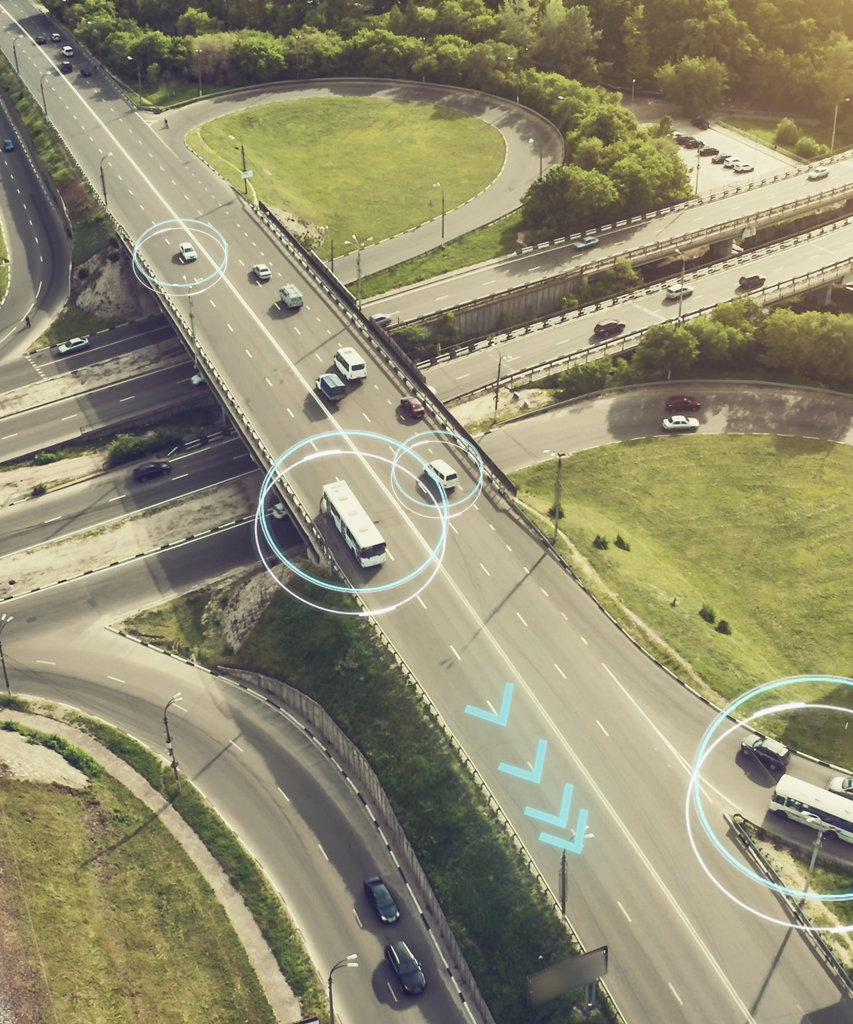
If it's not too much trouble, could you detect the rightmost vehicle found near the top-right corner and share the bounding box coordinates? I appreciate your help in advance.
[806,167,831,180]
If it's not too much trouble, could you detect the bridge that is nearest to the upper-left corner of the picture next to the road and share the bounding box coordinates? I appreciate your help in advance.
[113,214,515,563]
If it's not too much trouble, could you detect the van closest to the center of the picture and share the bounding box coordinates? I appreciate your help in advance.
[425,458,459,493]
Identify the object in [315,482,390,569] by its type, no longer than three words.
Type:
bus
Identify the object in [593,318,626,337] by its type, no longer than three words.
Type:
car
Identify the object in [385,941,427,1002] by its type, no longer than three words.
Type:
car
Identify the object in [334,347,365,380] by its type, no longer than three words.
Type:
vehicle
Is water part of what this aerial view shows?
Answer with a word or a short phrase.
No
